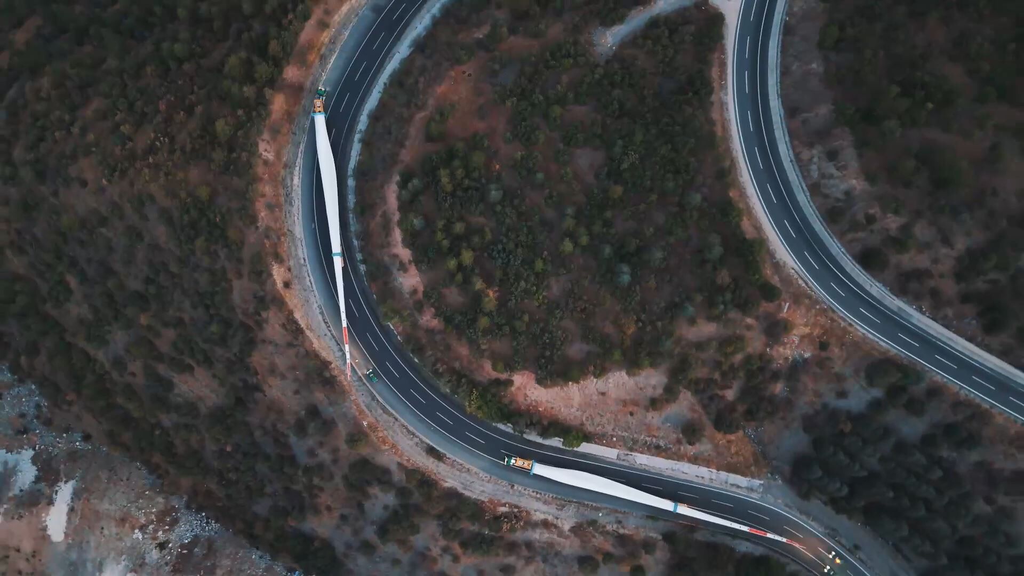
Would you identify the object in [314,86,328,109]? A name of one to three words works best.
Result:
vehicle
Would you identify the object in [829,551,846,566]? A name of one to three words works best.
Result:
vehicle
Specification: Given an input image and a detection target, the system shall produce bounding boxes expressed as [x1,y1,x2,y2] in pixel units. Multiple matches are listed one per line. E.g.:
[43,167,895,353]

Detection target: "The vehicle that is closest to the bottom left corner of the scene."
[366,369,379,385]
